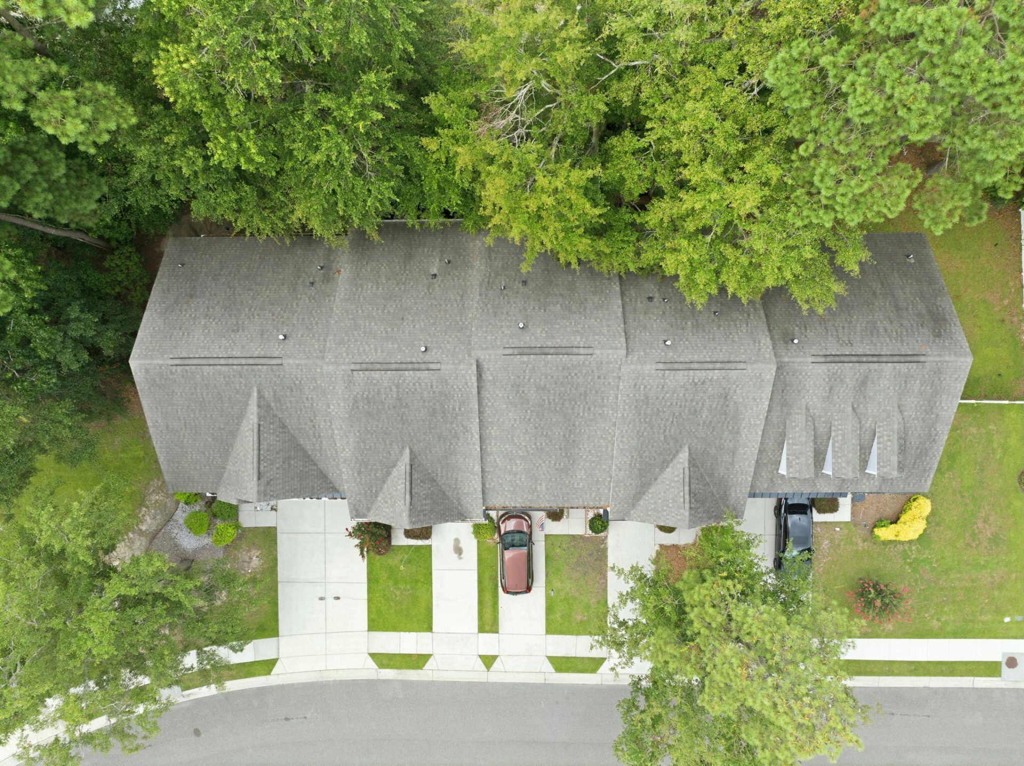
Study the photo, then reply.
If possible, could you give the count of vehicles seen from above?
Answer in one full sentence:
My tally gives 2 vehicles in this view.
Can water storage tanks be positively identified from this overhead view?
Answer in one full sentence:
No, the scene contains no water storage tank.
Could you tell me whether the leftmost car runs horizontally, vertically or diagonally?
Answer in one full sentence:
In this picture, the leftmost car lies vertically.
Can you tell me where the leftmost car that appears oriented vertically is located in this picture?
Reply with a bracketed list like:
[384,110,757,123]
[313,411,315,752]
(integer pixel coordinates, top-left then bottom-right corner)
[497,512,535,595]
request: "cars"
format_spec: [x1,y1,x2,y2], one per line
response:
[774,498,817,578]
[497,512,535,595]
